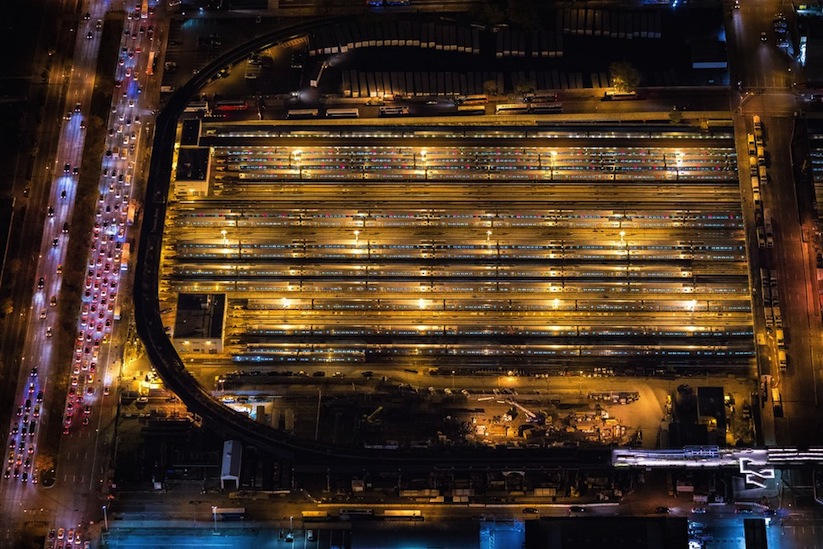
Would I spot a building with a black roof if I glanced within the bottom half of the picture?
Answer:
Yes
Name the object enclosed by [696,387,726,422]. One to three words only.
building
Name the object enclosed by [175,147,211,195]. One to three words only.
building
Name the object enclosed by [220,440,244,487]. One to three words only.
shed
